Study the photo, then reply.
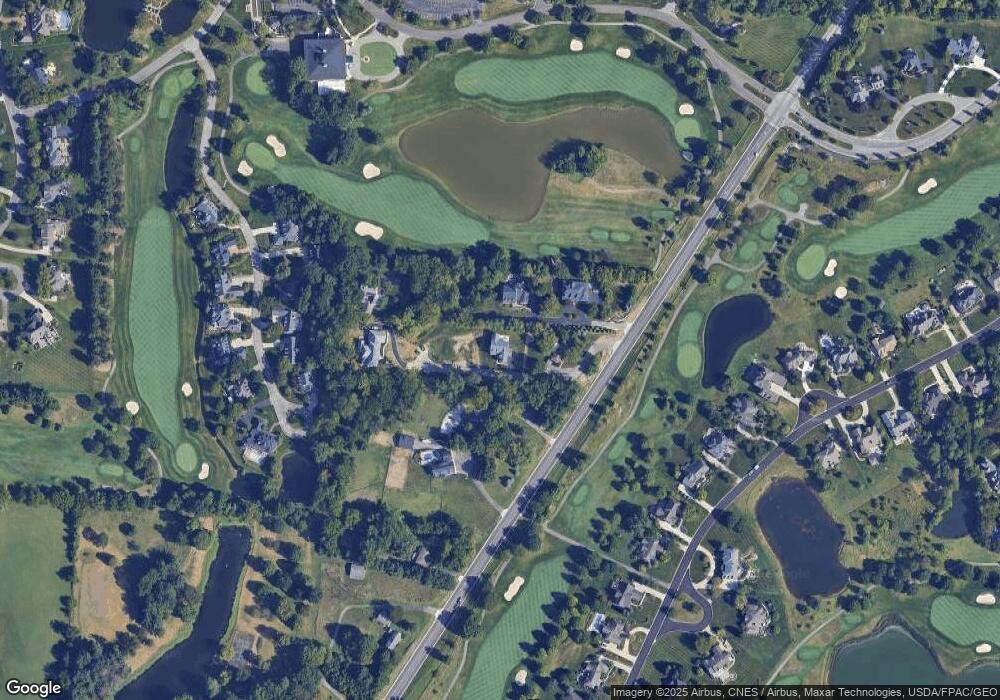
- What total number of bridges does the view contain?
zero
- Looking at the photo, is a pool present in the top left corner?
Yes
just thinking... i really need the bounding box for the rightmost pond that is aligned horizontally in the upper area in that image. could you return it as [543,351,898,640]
[400,104,682,222]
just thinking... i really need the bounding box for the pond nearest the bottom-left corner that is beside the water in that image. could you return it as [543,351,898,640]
[115,526,249,700]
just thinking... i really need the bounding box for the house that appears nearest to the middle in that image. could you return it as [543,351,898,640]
[489,333,510,365]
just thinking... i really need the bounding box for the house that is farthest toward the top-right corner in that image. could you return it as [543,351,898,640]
[947,28,989,64]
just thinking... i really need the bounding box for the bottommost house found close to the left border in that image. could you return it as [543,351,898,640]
[26,318,62,350]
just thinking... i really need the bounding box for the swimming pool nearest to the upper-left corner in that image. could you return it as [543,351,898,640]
[48,10,71,32]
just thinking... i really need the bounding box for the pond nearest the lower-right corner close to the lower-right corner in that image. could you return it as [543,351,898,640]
[814,625,1000,700]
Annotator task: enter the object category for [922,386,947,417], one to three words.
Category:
house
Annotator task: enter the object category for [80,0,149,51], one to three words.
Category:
pond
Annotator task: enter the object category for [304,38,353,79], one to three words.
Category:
building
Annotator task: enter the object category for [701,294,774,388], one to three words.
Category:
pond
